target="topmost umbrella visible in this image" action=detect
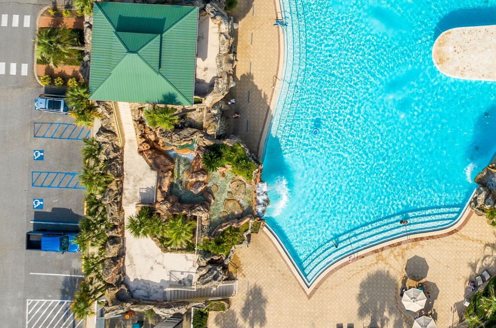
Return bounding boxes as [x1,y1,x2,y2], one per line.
[402,287,426,311]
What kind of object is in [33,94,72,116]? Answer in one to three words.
car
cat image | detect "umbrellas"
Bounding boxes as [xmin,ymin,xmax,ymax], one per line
[412,314,437,328]
[402,287,426,311]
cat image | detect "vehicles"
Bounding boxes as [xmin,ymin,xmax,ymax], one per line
[25,228,80,253]
[33,94,72,116]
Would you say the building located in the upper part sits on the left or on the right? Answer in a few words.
left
